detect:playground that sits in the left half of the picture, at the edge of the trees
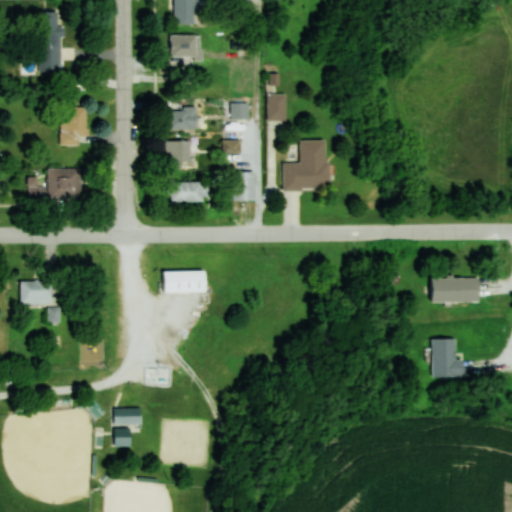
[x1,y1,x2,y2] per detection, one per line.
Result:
[79,340,105,369]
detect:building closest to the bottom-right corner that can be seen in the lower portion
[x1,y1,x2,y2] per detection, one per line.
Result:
[432,339,467,378]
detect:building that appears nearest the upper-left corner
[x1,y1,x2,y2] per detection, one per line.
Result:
[38,11,64,72]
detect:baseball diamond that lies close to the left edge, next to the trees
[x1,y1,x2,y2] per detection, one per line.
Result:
[2,408,92,504]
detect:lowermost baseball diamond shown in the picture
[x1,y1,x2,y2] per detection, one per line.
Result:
[104,480,172,512]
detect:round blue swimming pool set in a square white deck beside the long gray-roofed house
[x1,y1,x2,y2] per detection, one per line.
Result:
[20,60,37,76]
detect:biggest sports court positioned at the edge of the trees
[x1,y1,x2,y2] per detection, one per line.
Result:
[160,420,209,467]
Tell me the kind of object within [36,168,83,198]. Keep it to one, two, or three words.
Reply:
house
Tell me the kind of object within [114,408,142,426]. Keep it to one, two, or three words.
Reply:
building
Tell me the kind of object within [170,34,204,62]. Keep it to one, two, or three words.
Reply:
house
